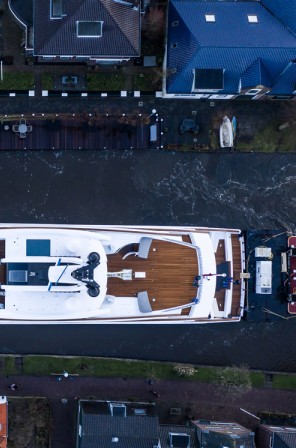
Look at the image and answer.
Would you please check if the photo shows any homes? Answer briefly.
Yes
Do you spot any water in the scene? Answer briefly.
Yes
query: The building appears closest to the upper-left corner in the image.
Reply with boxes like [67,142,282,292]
[8,0,141,60]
